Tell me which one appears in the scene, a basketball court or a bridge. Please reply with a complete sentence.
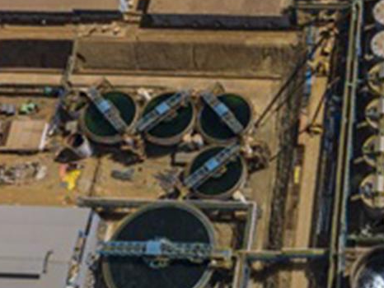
Of the two, only a bridge appears.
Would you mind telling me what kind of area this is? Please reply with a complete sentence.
The picture captures an industrial area.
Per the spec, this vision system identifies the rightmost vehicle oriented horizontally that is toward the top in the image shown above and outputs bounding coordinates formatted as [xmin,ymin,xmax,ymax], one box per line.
[20,101,39,113]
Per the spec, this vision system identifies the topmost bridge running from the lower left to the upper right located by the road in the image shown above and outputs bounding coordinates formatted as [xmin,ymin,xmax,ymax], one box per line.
[134,88,194,137]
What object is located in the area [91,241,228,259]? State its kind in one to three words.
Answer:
bridge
